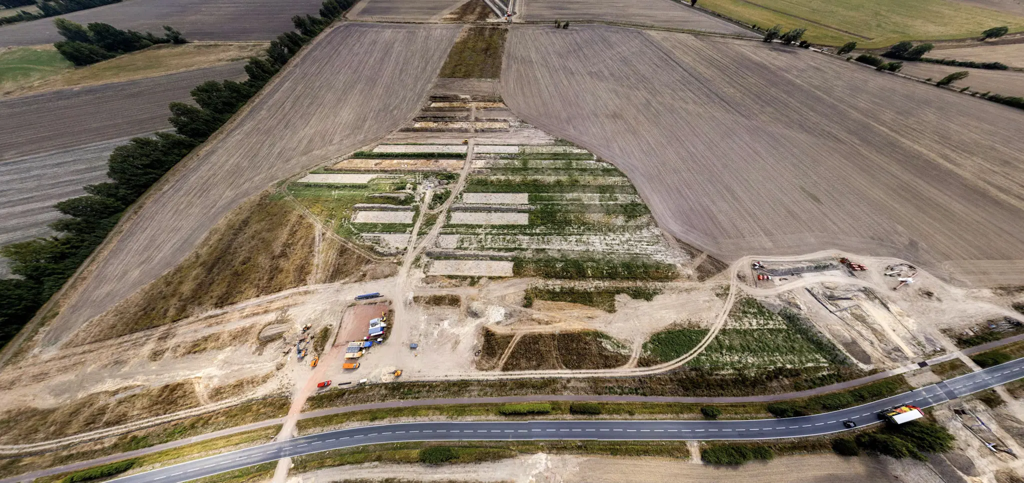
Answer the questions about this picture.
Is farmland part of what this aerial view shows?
Yes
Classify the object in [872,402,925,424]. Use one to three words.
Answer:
truck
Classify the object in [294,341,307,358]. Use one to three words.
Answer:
vehicle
